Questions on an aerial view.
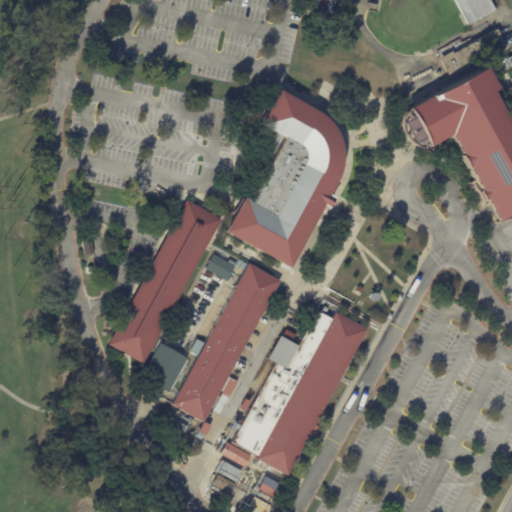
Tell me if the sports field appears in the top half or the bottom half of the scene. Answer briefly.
top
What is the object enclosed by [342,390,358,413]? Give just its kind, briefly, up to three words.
vehicle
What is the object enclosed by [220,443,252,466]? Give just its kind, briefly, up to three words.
building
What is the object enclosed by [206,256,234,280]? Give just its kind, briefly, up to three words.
shed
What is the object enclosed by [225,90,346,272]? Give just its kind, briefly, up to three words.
building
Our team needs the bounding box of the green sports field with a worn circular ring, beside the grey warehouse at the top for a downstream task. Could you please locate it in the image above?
[366,0,468,56]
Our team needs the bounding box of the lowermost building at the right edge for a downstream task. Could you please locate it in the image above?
[398,68,512,219]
